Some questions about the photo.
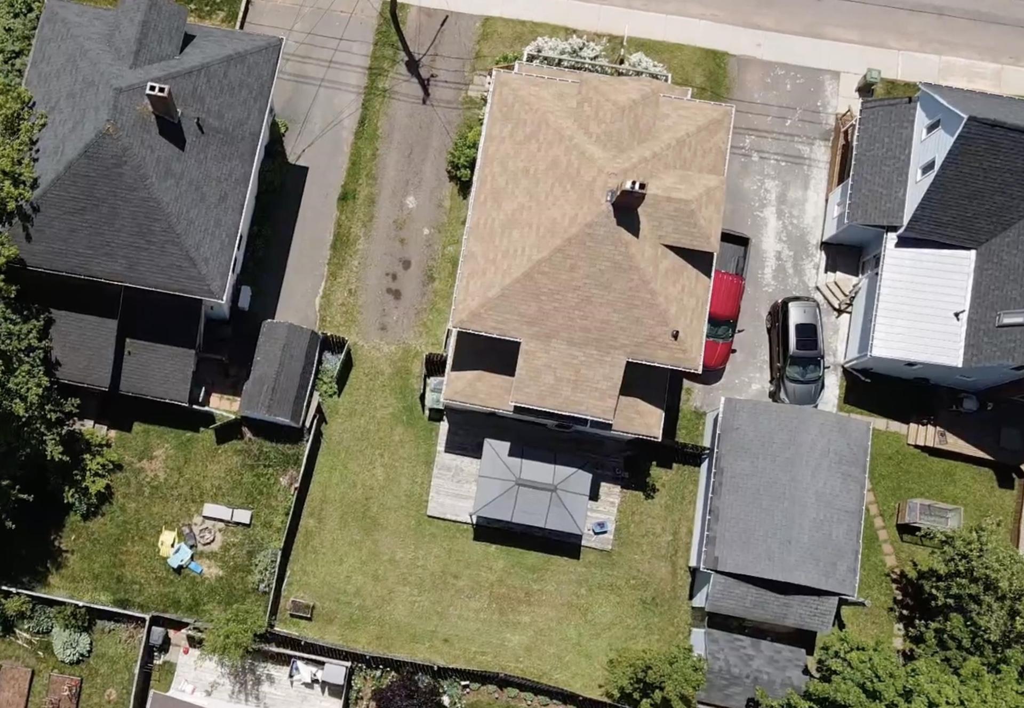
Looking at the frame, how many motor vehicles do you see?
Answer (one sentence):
There are 2 motor vehicles in the image.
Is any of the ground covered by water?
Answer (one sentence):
No, there is no water in the image.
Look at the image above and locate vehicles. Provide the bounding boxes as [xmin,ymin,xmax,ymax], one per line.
[769,298,829,407]
[683,230,752,384]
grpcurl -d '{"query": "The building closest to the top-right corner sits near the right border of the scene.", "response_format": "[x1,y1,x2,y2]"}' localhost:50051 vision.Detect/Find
[825,80,1024,386]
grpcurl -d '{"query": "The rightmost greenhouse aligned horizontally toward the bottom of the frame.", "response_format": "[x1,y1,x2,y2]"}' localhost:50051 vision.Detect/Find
[892,499,968,542]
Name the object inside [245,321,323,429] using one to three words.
shed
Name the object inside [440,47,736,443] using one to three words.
house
